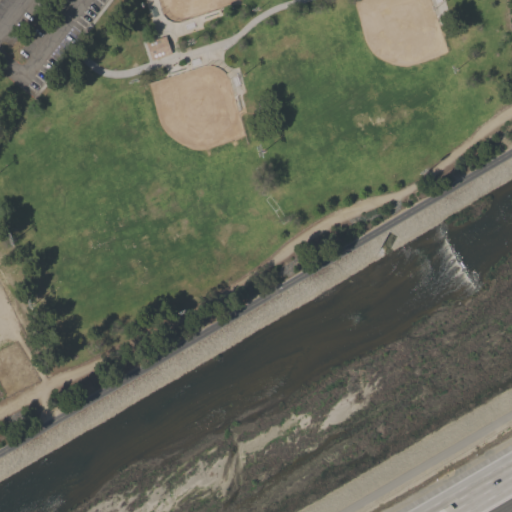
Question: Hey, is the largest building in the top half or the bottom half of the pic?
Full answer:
Seen from above, the largest building lies in the top half of the view.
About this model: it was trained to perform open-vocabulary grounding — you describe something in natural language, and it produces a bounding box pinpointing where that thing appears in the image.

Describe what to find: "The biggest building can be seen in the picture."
[146,36,172,60]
